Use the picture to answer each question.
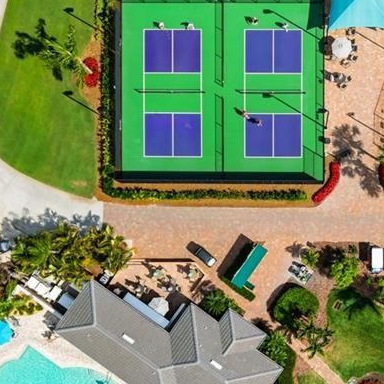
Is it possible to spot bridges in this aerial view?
No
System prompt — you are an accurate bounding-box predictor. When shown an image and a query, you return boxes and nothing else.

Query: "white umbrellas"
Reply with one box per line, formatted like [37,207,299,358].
[330,37,353,59]
[148,294,172,317]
